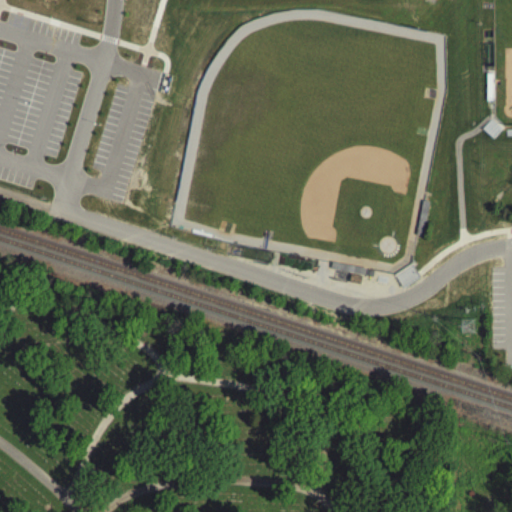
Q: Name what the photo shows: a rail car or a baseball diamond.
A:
baseball diamond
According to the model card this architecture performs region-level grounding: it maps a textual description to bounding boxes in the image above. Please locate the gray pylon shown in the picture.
[460,318,477,334]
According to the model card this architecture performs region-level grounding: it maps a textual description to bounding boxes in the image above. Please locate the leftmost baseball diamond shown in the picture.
[172,10,446,274]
